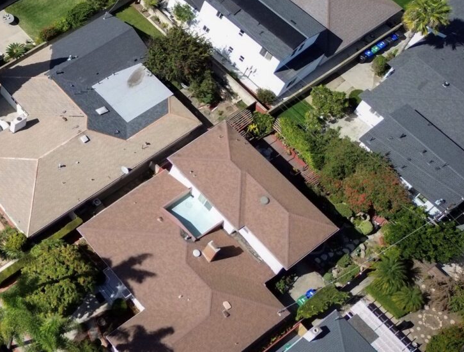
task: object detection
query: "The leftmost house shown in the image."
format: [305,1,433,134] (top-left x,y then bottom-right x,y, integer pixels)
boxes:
[0,12,201,241]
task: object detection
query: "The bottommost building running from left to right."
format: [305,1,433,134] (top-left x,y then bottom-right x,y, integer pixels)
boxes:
[276,309,378,352]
